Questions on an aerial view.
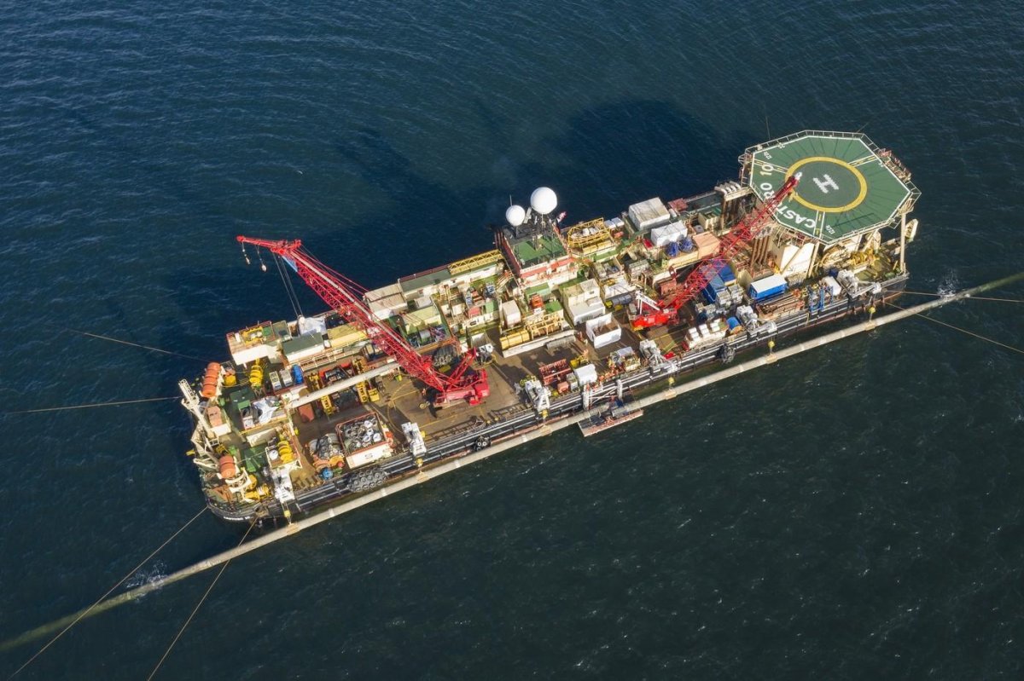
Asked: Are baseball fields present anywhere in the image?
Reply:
No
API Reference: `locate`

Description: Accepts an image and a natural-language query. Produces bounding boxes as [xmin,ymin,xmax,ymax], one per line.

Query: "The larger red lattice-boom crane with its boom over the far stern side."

[236,235,492,416]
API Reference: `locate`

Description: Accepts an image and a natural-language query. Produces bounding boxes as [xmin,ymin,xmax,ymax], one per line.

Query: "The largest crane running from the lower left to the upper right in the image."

[626,174,801,338]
